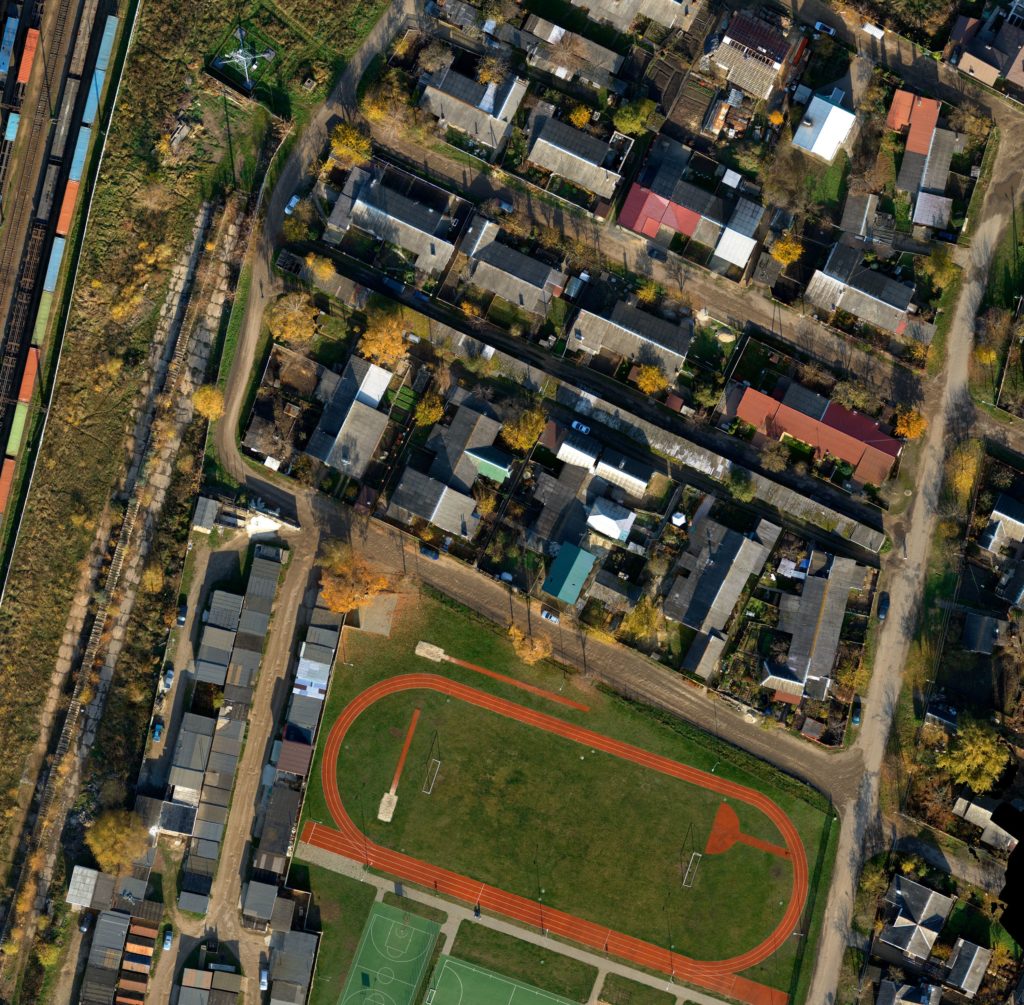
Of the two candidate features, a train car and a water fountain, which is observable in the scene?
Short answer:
train car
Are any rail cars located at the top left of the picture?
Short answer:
Yes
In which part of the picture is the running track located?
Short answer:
bottom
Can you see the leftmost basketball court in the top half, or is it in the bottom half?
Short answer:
bottom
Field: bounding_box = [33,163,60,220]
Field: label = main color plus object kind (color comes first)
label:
gray rail car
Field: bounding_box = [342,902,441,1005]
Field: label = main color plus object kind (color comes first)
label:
green basketball court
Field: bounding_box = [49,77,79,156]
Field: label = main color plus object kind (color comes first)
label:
gray rail car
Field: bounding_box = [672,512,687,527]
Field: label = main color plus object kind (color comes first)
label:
white gazebo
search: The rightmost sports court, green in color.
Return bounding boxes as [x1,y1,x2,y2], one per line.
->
[424,955,580,1005]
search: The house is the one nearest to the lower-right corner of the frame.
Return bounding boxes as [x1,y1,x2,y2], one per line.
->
[946,939,991,993]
